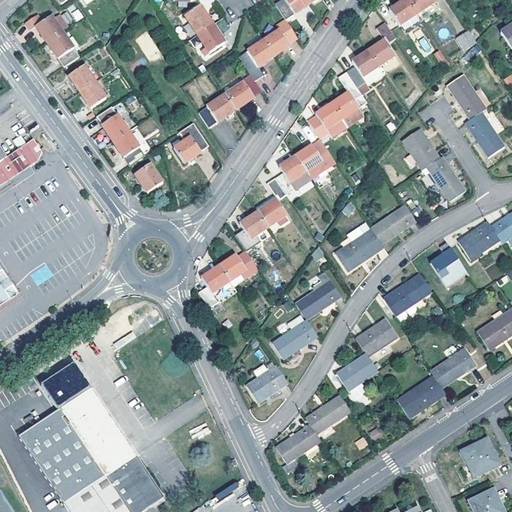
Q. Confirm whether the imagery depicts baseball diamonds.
No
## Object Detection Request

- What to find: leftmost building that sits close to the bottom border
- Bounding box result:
[20,362,174,512]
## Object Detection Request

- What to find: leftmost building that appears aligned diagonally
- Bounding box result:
[0,140,44,190]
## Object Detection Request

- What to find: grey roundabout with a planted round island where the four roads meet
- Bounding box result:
[116,220,190,293]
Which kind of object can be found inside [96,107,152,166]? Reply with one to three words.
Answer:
house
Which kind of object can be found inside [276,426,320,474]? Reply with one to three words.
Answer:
house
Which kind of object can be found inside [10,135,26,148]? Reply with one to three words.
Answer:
vehicle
